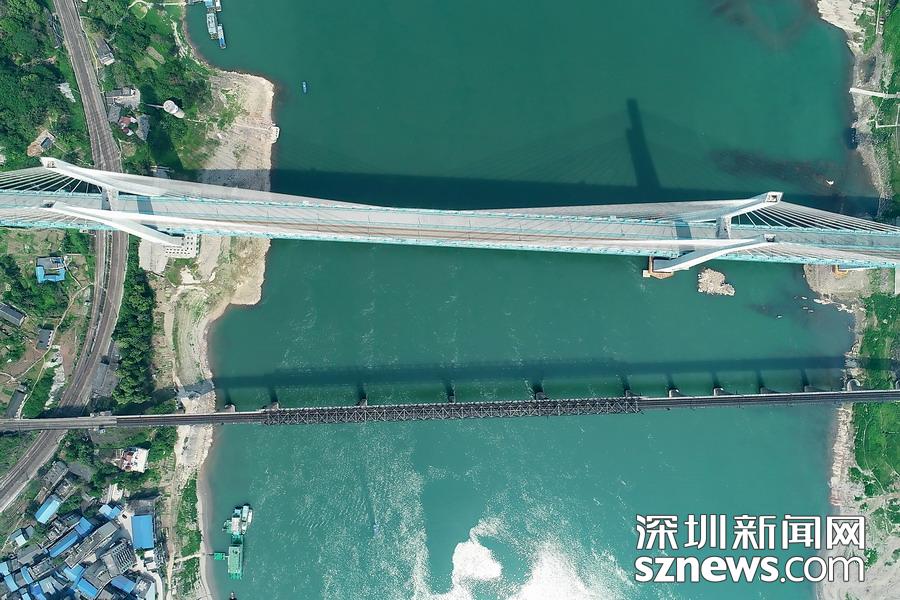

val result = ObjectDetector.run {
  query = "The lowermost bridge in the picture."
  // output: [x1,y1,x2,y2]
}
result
[0,368,900,432]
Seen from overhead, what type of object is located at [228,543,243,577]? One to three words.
ship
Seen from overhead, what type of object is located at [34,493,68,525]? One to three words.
shed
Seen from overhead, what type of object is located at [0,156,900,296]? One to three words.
bridge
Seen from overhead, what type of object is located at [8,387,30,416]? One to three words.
house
